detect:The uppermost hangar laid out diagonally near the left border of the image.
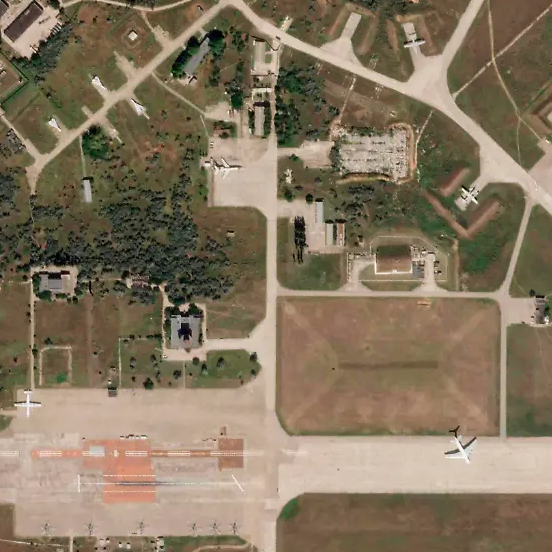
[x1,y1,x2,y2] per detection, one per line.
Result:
[5,1,46,42]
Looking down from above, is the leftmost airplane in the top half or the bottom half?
bottom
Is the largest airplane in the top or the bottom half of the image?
bottom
